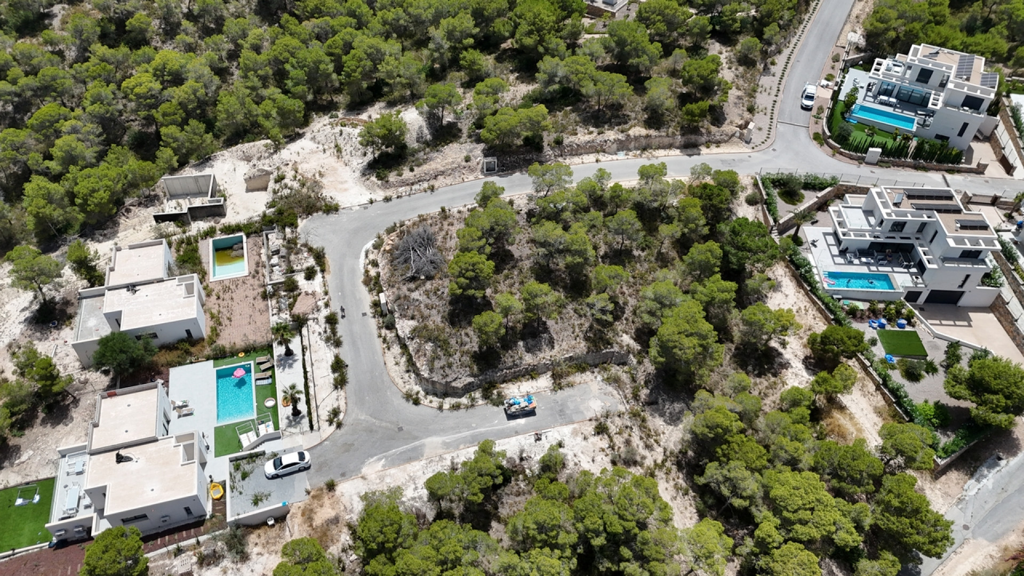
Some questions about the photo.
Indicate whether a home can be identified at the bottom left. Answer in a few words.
Yes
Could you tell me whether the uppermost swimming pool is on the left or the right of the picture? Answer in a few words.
right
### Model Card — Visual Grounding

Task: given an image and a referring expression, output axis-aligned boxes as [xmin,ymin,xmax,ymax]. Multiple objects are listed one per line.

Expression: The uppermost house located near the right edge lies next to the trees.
[865,43,1002,152]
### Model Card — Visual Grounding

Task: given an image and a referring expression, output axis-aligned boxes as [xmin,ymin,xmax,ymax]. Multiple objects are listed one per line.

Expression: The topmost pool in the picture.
[848,102,918,141]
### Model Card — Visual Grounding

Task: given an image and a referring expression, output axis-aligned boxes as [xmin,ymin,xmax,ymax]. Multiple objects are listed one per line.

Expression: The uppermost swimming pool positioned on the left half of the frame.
[209,232,248,281]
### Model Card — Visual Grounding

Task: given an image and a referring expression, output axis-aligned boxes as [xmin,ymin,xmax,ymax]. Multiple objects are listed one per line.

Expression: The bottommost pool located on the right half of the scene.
[818,268,903,304]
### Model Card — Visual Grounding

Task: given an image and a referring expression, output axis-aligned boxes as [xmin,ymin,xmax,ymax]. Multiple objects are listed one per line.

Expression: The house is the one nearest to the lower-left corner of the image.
[44,380,211,555]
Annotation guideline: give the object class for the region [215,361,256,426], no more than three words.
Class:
swimming pool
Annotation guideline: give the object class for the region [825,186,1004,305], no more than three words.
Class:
house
